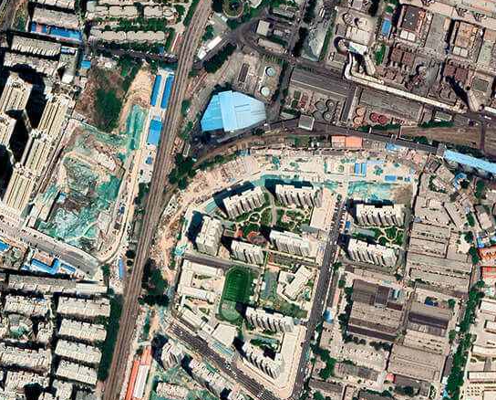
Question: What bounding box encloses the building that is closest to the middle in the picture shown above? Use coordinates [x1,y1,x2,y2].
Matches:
[223,188,268,225]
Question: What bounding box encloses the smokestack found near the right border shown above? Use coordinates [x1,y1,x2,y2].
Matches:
[466,87,480,113]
